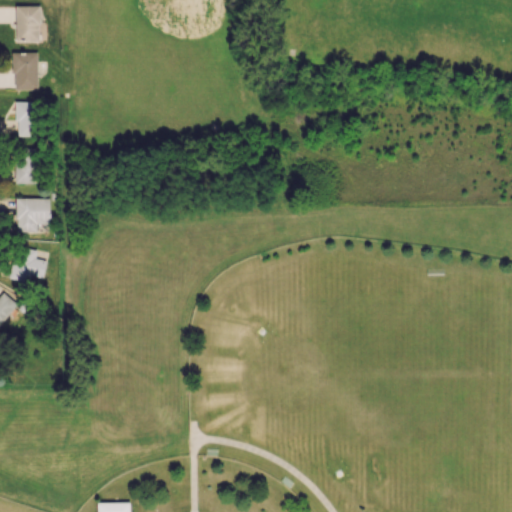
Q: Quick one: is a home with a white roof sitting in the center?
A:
No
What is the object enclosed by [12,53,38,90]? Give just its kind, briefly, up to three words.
house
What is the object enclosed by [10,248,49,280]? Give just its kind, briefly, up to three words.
house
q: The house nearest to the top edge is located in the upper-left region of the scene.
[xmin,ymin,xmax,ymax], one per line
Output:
[16,6,44,43]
